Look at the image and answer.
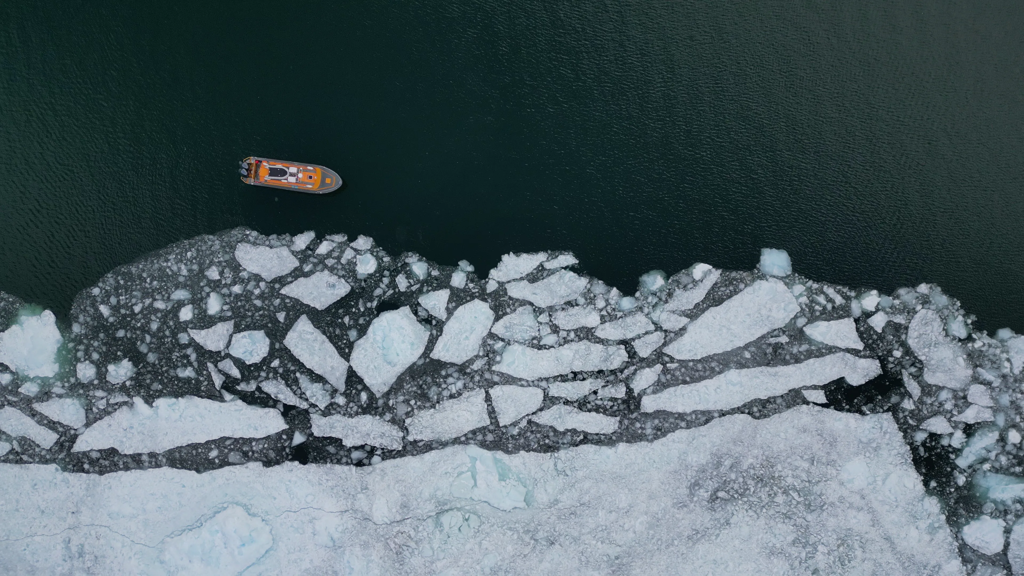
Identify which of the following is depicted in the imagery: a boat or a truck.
boat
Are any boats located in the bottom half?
No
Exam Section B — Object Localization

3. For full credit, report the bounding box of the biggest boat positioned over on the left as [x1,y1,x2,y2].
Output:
[240,156,343,194]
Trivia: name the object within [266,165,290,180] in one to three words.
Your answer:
boat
